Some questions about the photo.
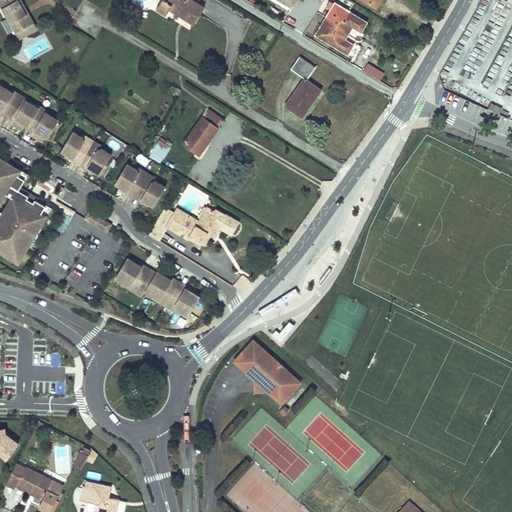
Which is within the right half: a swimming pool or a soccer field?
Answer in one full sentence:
Looking within the right half, you will find a soccer field.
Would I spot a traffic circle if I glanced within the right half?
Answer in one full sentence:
No, I can find no traffic circle within the right half.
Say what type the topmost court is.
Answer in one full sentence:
The topmost court in the image is a basketball court.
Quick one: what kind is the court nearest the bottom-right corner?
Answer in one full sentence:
The court nearest the bottom-right corner can be classified as a tennis court.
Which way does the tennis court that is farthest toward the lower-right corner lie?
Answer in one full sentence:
From this overhead view, the tennis court that is farthest toward the lower-right corner appears to run at an angle.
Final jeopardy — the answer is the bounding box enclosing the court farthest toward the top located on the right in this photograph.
[318,295,368,356]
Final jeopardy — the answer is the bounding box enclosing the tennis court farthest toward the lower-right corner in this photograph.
[286,396,381,488]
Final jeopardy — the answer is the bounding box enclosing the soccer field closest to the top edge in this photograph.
[354,136,512,364]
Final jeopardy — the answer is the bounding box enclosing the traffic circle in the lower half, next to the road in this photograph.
[86,336,188,438]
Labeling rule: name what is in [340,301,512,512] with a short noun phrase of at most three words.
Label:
soccer field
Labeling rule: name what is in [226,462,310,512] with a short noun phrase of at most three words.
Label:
tennis court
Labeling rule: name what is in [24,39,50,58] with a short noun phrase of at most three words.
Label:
swimming pool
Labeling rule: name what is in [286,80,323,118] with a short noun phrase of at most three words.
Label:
barn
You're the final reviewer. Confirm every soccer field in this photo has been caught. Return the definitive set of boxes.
[354,136,512,364]
[340,301,512,512]
[463,419,512,512]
